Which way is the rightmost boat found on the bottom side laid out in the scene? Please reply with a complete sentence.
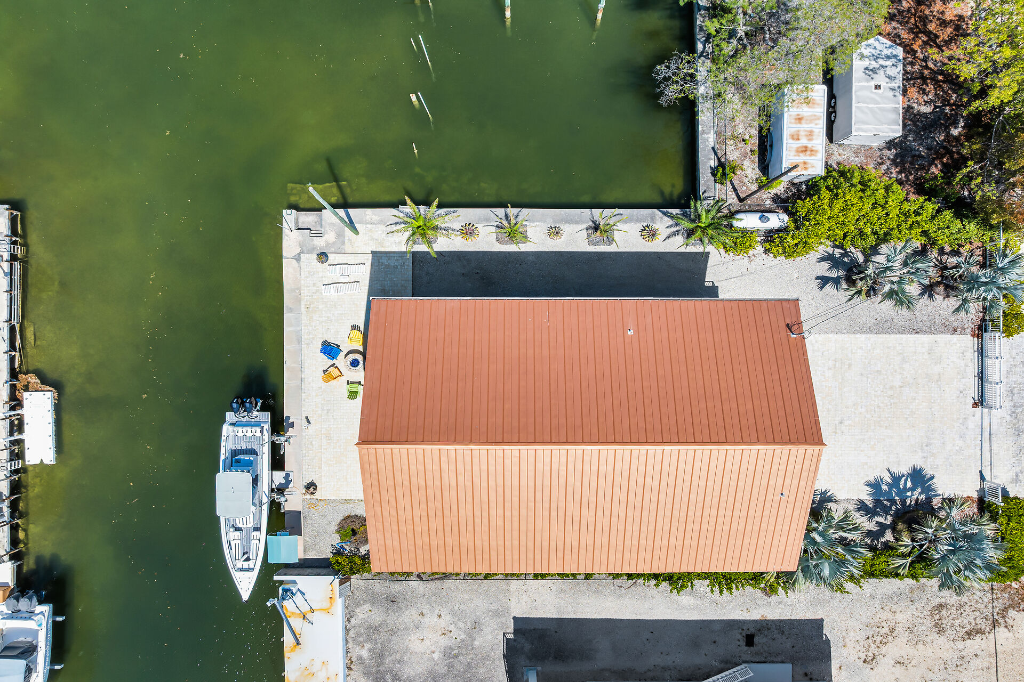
I'd say the rightmost boat found on the bottom side is aligned up and down in the picture.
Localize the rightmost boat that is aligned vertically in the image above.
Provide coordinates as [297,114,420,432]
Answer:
[215,396,275,607]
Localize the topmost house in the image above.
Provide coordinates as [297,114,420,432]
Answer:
[356,296,827,572]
